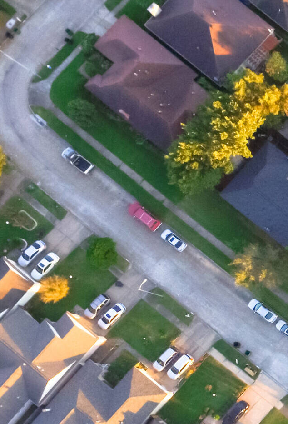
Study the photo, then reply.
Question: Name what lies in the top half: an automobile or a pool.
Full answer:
The feature located in the top half is an automobile.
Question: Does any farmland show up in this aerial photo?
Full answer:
No, farmland can't be seen anywhere here.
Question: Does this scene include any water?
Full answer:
No, the picture contains no water.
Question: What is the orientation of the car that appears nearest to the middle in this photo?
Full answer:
Seen from above, the car that appears nearest to the middle lies on a diagonal.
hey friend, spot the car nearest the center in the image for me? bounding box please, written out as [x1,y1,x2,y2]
[127,200,164,233]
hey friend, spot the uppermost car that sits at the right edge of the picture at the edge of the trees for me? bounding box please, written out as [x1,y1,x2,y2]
[246,296,281,326]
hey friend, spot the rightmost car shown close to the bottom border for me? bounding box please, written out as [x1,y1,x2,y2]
[221,397,253,424]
